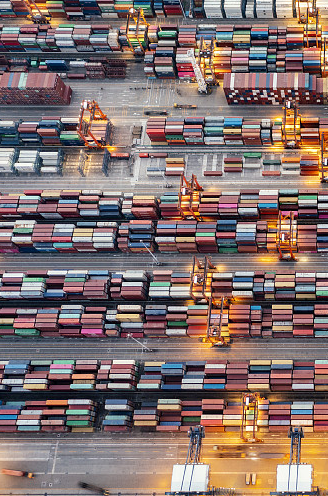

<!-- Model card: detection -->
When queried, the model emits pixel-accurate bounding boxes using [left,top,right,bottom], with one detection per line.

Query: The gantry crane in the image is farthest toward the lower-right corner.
[269,430,328,496]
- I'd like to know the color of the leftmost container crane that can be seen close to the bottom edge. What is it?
white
